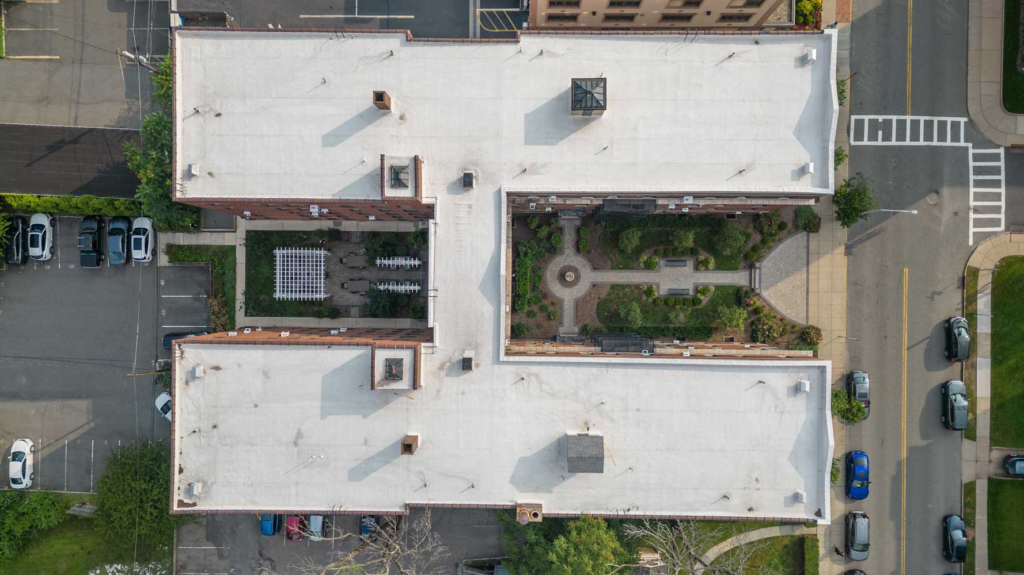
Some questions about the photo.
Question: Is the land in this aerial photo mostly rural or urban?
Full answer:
From above, the setting appears urban.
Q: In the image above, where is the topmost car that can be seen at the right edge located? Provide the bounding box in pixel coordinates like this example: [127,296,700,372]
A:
[945,316,973,363]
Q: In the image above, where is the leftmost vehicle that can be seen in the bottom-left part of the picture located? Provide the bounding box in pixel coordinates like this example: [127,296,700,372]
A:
[4,440,34,492]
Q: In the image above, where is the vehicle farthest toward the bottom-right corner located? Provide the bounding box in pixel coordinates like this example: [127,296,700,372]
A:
[943,515,972,565]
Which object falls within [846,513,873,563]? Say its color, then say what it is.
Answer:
gray car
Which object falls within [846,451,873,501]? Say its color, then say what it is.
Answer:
blue car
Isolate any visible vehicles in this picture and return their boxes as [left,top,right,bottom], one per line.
[287,515,308,540]
[846,513,873,563]
[156,393,172,431]
[262,515,285,536]
[1005,456,1024,476]
[846,451,873,501]
[943,381,972,431]
[25,213,54,260]
[4,440,34,492]
[945,316,973,363]
[310,515,331,540]
[158,330,206,351]
[103,216,131,265]
[0,214,28,264]
[846,371,873,418]
[73,214,104,269]
[943,515,972,565]
[127,217,154,263]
